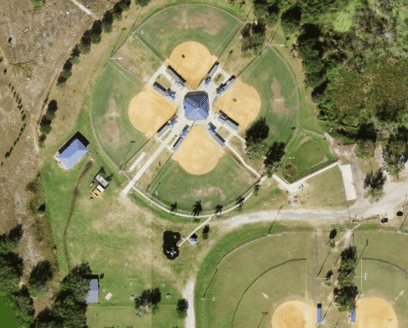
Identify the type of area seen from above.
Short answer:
sports ground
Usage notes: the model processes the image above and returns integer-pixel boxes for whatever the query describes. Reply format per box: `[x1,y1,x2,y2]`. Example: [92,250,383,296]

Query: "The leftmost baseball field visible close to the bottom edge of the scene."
[203,232,316,328]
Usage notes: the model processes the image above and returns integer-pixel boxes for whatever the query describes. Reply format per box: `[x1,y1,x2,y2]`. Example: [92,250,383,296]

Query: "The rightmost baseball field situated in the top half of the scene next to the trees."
[212,46,299,169]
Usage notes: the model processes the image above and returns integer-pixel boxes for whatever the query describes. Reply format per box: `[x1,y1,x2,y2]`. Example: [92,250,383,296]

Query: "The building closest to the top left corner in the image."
[51,136,87,170]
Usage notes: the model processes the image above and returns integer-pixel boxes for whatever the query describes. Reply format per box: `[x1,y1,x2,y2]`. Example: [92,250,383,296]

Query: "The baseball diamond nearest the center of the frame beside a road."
[137,129,260,215]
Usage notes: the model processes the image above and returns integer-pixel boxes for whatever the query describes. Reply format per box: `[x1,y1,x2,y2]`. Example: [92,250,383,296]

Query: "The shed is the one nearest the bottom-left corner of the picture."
[84,279,100,303]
